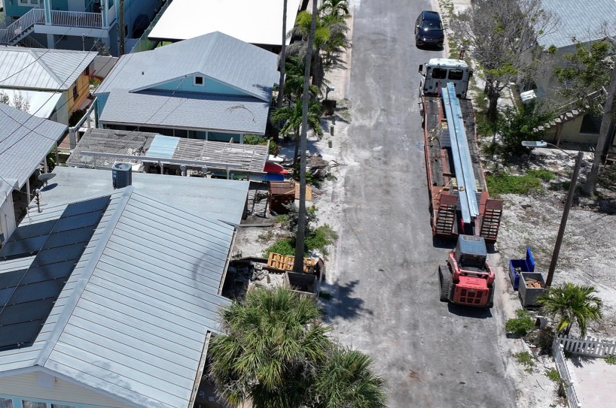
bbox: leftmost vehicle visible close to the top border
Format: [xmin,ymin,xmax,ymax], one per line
[411,4,449,40]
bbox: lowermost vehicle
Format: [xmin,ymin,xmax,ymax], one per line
[436,228,494,303]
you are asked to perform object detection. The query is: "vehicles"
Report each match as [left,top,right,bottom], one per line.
[411,4,449,40]
[436,228,494,303]
[421,58,504,249]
